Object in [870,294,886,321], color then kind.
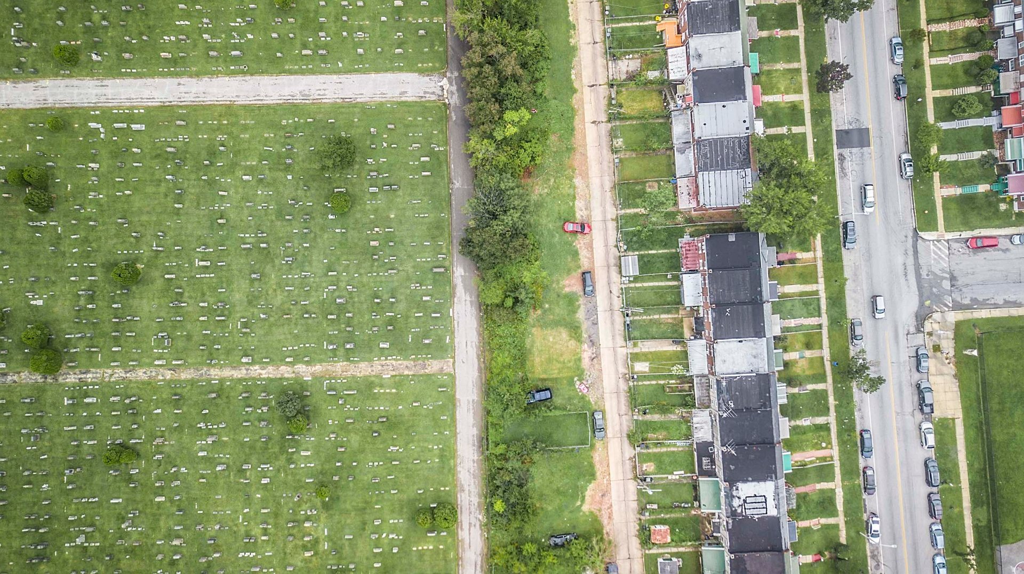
white car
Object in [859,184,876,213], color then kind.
white car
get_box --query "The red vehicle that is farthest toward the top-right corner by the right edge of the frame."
[966,236,999,250]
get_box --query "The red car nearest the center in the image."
[561,221,591,235]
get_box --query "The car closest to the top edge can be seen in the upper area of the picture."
[888,36,904,66]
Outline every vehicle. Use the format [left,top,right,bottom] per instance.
[891,74,907,101]
[870,294,886,321]
[561,221,591,235]
[841,220,857,249]
[858,428,873,458]
[928,520,944,551]
[592,409,606,439]
[581,269,596,298]
[897,151,913,181]
[525,387,555,404]
[888,36,904,66]
[931,551,947,574]
[859,184,876,213]
[925,490,943,521]
[849,316,864,346]
[917,420,934,450]
[966,236,999,250]
[913,345,929,375]
[923,457,939,487]
[865,513,881,542]
[861,465,876,495]
[916,380,933,414]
